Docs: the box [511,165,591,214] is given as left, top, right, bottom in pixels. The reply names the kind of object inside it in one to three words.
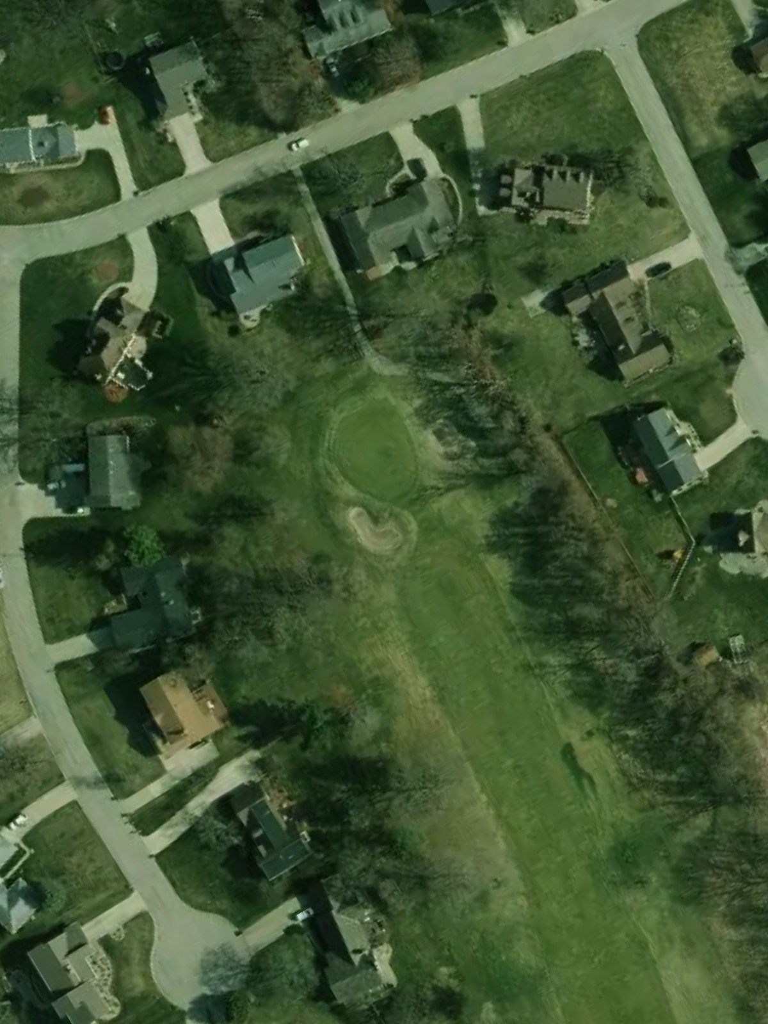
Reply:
house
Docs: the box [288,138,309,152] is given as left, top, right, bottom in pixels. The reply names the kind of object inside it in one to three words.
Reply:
car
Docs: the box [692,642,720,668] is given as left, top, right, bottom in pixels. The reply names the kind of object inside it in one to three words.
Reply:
shed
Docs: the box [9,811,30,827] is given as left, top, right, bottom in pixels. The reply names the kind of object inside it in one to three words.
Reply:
vehicle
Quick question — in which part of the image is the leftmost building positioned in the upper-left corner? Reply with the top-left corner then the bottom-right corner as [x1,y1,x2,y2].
[0,122,78,166]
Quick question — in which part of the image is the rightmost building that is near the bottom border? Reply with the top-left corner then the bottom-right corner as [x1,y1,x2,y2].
[313,869,379,1006]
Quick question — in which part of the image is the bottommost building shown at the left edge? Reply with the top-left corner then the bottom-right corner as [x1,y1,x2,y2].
[27,921,115,1024]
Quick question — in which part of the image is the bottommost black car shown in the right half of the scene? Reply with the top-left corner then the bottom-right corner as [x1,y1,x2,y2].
[648,263,669,277]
